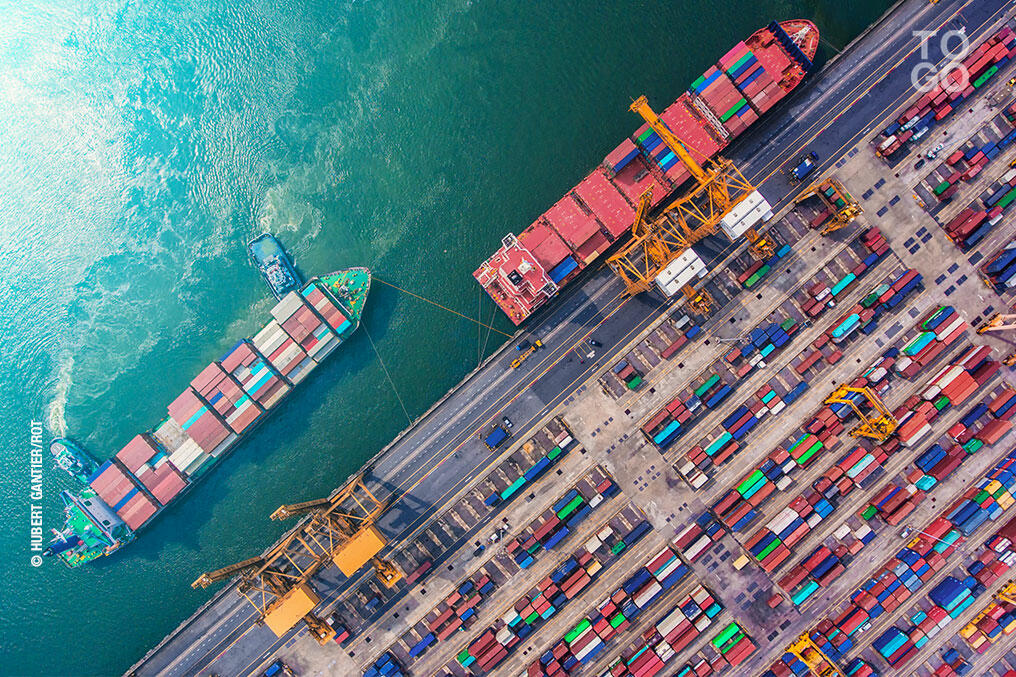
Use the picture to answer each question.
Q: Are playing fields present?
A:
No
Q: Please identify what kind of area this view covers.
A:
port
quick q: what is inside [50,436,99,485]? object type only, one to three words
boat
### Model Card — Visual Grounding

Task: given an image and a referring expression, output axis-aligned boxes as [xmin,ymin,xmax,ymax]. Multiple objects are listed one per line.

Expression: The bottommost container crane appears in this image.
[785,630,848,677]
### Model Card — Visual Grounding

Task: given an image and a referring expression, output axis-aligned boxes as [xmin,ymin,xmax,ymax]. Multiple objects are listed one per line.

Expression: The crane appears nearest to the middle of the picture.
[592,186,712,319]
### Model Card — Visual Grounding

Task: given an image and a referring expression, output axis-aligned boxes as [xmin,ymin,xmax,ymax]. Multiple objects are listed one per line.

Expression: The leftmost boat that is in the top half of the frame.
[247,230,297,296]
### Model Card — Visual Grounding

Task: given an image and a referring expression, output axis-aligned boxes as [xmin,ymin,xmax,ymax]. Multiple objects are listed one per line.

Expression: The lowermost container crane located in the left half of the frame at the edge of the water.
[192,522,344,643]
